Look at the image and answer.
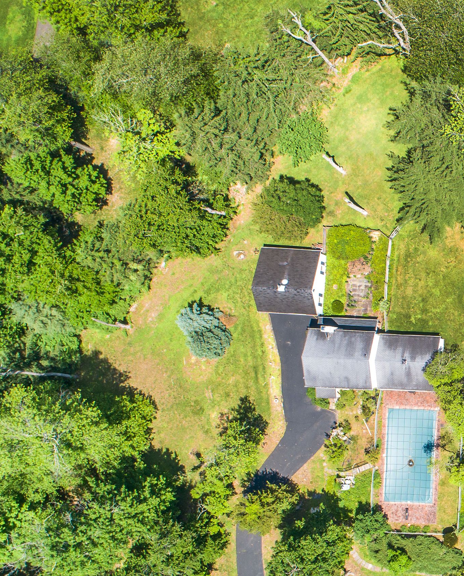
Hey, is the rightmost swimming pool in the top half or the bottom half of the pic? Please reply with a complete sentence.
The rightmost swimming pool sits in the bottom half of the picture.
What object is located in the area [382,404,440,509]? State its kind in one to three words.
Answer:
swimming pool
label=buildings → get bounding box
[252,247,327,316]
[302,326,441,403]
